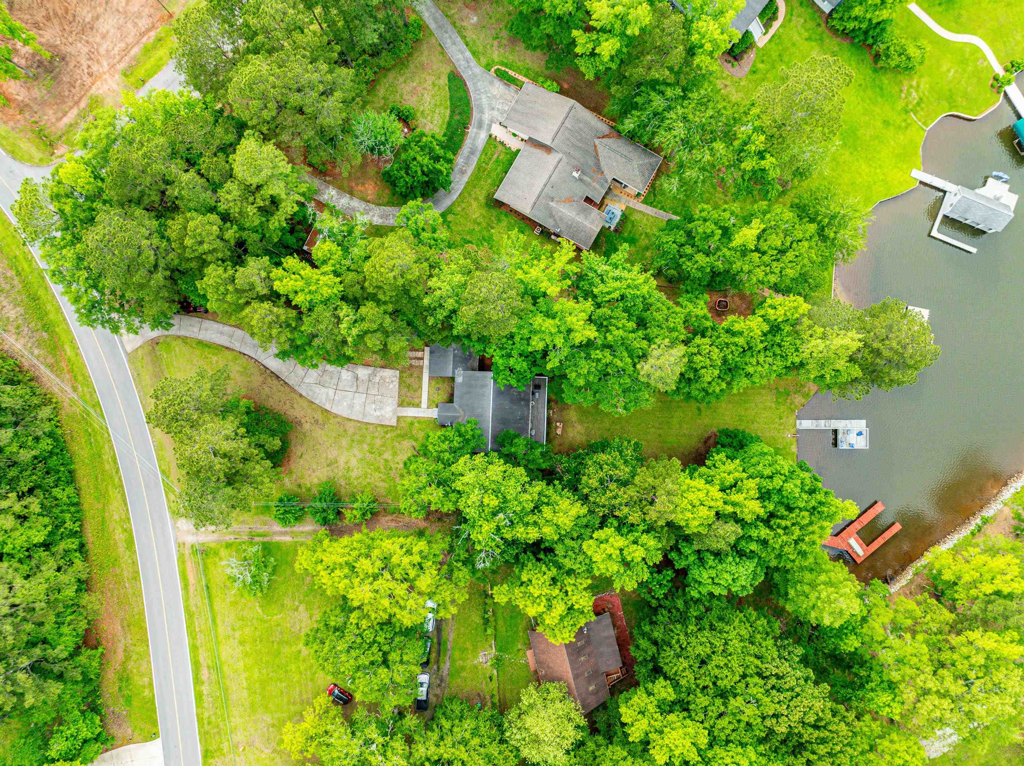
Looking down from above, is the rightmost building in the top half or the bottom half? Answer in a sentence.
The rightmost building is in the top half of the image.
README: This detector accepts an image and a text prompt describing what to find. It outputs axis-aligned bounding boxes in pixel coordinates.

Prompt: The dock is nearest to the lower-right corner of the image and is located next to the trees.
[822,501,903,564]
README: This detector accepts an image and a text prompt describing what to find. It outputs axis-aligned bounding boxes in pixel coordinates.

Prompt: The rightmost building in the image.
[929,184,1014,236]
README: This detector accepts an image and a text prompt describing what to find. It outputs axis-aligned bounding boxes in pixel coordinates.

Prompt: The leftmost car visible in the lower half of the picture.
[325,680,355,707]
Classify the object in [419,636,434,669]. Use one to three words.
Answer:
car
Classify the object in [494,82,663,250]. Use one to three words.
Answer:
house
